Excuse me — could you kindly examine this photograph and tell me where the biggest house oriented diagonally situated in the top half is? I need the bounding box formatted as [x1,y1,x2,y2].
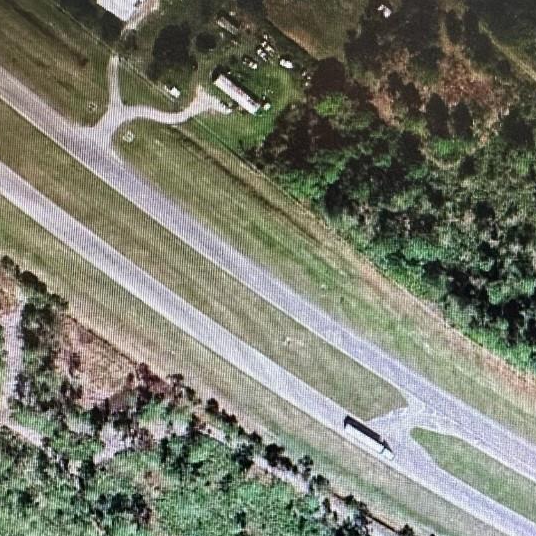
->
[214,74,260,114]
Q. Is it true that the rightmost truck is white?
Yes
